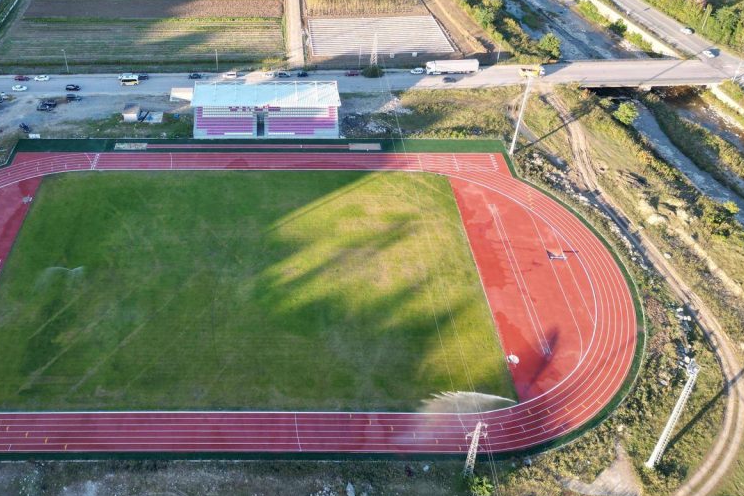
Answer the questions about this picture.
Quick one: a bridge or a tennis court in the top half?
bridge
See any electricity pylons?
Yes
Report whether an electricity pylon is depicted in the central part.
No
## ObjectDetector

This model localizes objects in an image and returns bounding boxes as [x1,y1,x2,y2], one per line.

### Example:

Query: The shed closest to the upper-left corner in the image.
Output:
[119,101,138,122]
